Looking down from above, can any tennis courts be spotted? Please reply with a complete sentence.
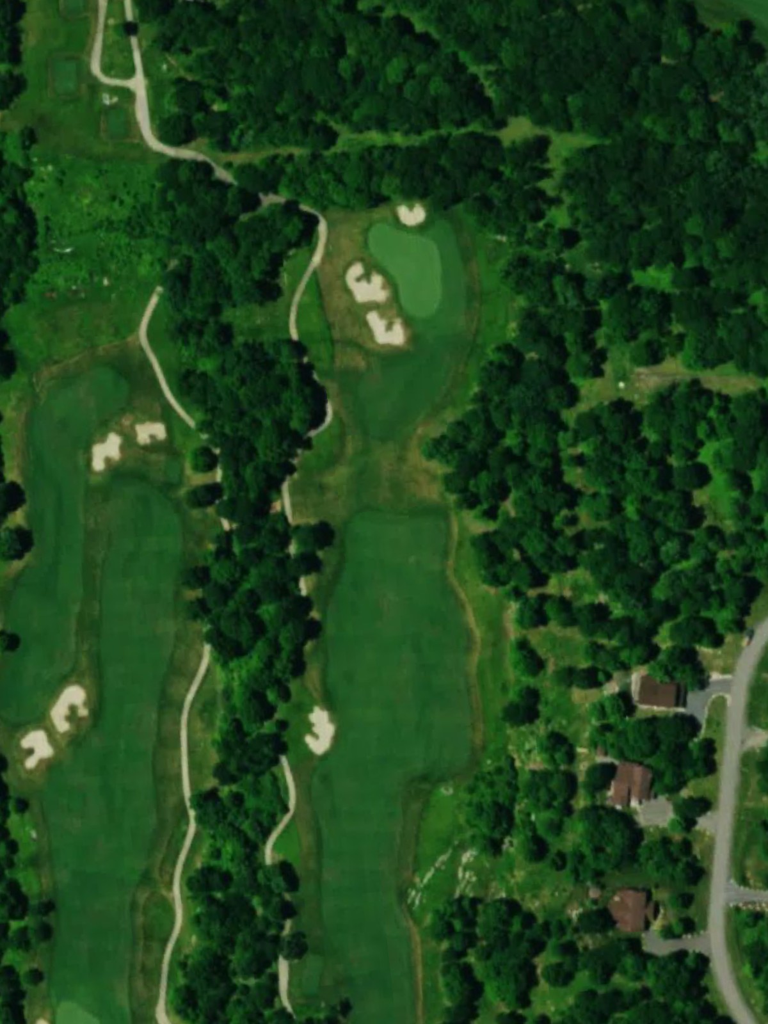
No, the picture doesn't show any tennis court.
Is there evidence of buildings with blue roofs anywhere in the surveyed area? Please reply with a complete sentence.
No, the photo shows no building with a blue roof.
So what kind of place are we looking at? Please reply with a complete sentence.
The area seen from above is a golf course.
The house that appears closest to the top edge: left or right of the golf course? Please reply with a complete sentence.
Looking at the photo, the house that appears closest to the top edge lies to the right of the golf course.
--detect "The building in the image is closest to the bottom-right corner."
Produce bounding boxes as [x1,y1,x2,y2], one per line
[608,890,654,932]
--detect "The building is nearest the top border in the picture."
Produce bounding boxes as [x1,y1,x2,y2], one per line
[632,671,682,708]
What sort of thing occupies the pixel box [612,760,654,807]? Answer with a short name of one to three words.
house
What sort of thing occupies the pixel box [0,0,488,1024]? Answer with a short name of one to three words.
golf course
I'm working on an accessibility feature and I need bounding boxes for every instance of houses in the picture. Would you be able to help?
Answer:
[612,760,654,807]
[632,671,682,708]
[608,890,654,932]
